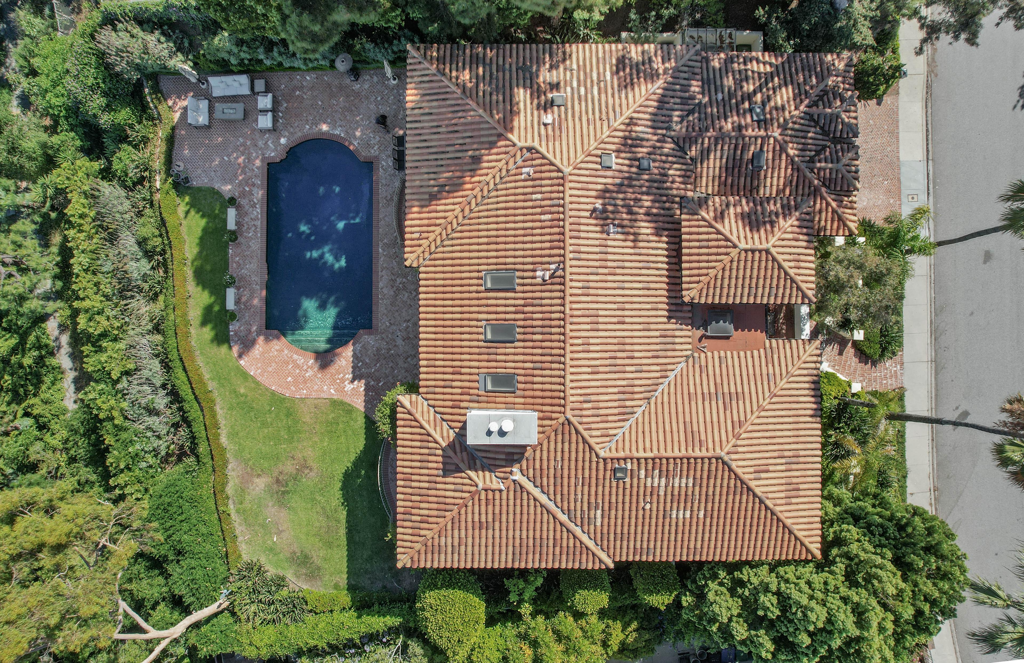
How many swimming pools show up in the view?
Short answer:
1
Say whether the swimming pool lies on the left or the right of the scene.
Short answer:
left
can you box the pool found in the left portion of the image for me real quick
[260,132,379,359]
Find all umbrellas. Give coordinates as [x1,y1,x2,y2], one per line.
[176,63,209,90]
[383,57,400,86]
